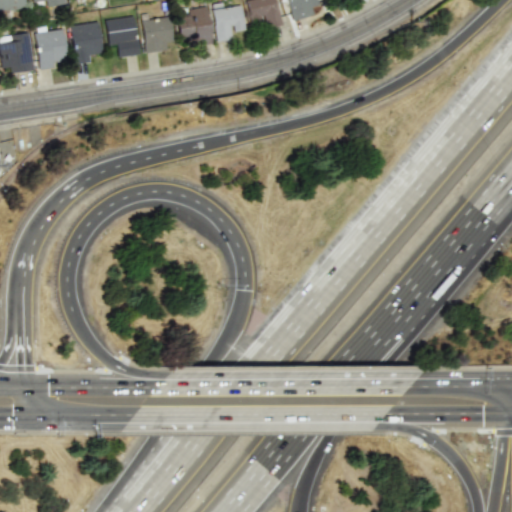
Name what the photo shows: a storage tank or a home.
home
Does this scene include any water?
No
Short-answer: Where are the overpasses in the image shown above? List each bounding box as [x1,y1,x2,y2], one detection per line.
[118,366,426,435]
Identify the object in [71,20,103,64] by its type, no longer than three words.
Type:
house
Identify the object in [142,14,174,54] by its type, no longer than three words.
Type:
house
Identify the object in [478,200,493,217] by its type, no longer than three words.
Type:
vehicle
